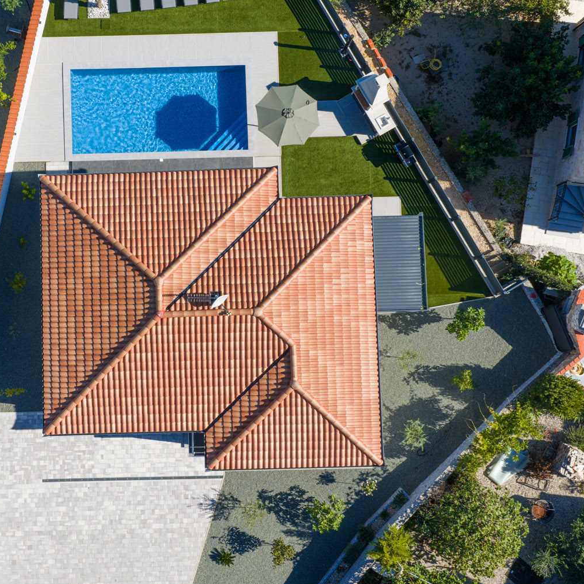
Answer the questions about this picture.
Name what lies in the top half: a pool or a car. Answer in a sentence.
You can see a pool in the top half.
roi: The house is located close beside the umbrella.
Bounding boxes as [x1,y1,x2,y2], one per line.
[38,165,386,473]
